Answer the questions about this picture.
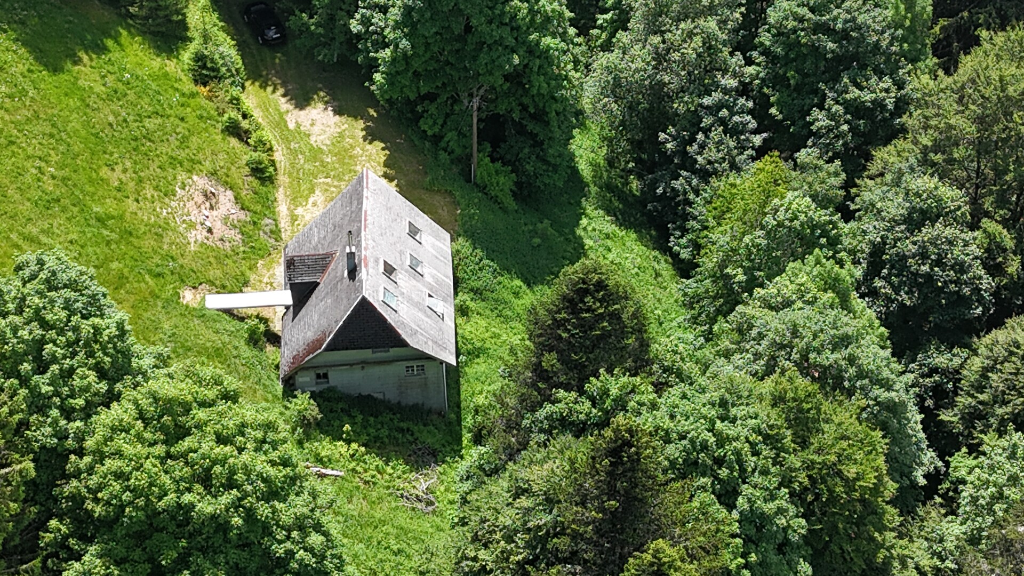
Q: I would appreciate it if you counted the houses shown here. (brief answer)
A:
1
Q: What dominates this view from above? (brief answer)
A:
trees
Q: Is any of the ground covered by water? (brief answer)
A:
No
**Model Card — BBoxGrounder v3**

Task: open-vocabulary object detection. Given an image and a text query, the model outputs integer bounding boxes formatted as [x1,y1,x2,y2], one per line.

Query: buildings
[278,169,458,412]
